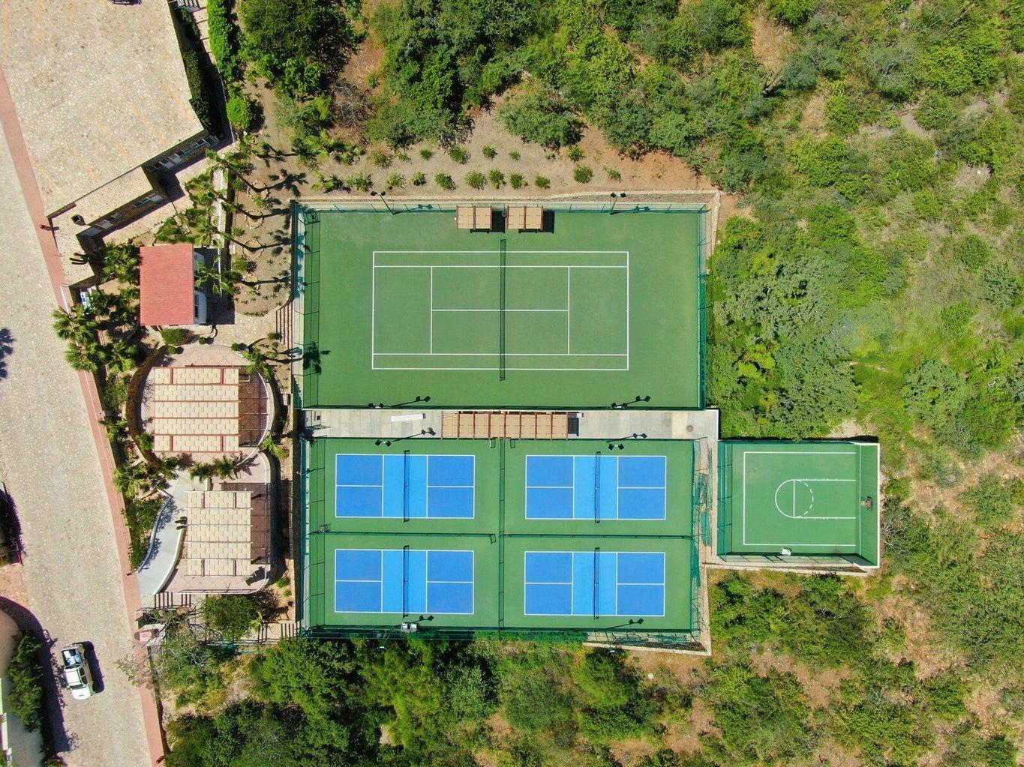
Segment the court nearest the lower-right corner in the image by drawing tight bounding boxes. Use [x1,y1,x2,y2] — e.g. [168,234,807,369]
[715,441,858,559]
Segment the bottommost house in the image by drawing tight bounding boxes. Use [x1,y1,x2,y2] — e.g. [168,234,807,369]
[139,245,213,333]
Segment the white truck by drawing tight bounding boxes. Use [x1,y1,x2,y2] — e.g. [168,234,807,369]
[60,638,95,701]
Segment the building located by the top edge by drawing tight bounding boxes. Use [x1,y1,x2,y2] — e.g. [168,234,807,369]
[0,0,217,217]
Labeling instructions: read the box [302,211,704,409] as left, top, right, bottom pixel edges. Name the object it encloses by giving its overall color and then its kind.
green tennis court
